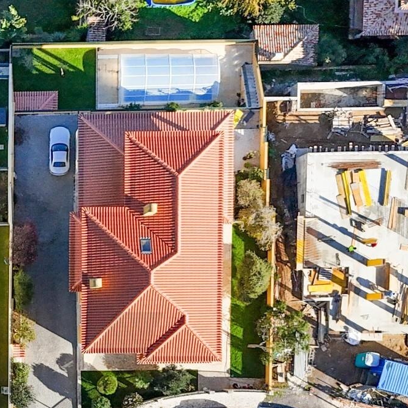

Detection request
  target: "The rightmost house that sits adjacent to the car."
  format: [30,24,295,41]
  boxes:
[68,107,236,365]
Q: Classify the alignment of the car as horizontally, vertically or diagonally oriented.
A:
vertically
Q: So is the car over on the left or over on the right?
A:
left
